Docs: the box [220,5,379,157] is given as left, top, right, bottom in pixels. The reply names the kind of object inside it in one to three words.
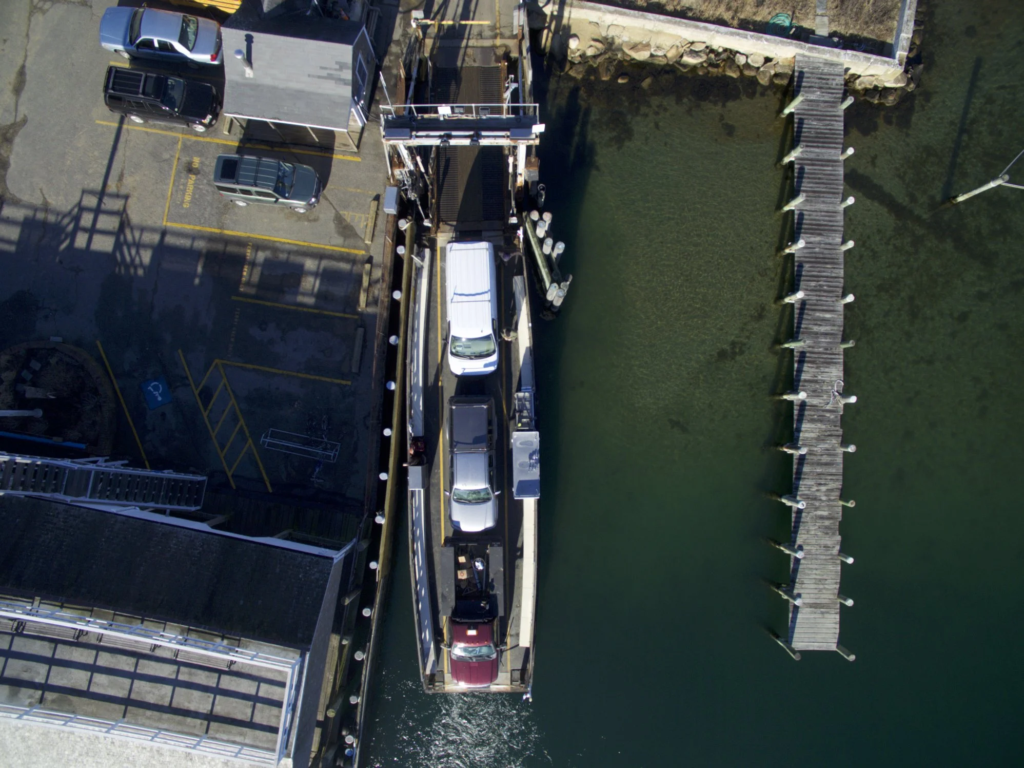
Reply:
shed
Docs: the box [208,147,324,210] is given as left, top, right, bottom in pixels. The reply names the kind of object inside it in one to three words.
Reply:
car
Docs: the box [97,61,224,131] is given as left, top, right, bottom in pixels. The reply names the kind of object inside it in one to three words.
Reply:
car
